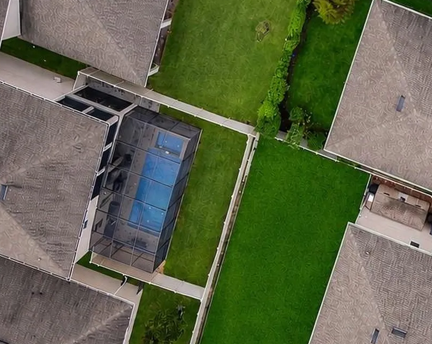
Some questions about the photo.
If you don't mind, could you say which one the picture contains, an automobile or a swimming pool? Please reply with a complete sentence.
I can see a swimming pool in this picture.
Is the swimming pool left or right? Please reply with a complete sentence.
You can find the swimming pool on the left side of the picture.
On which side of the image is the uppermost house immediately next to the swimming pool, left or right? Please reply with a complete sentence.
The uppermost house immediately next to the swimming pool sits on the left side.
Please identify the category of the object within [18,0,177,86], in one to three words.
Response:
house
